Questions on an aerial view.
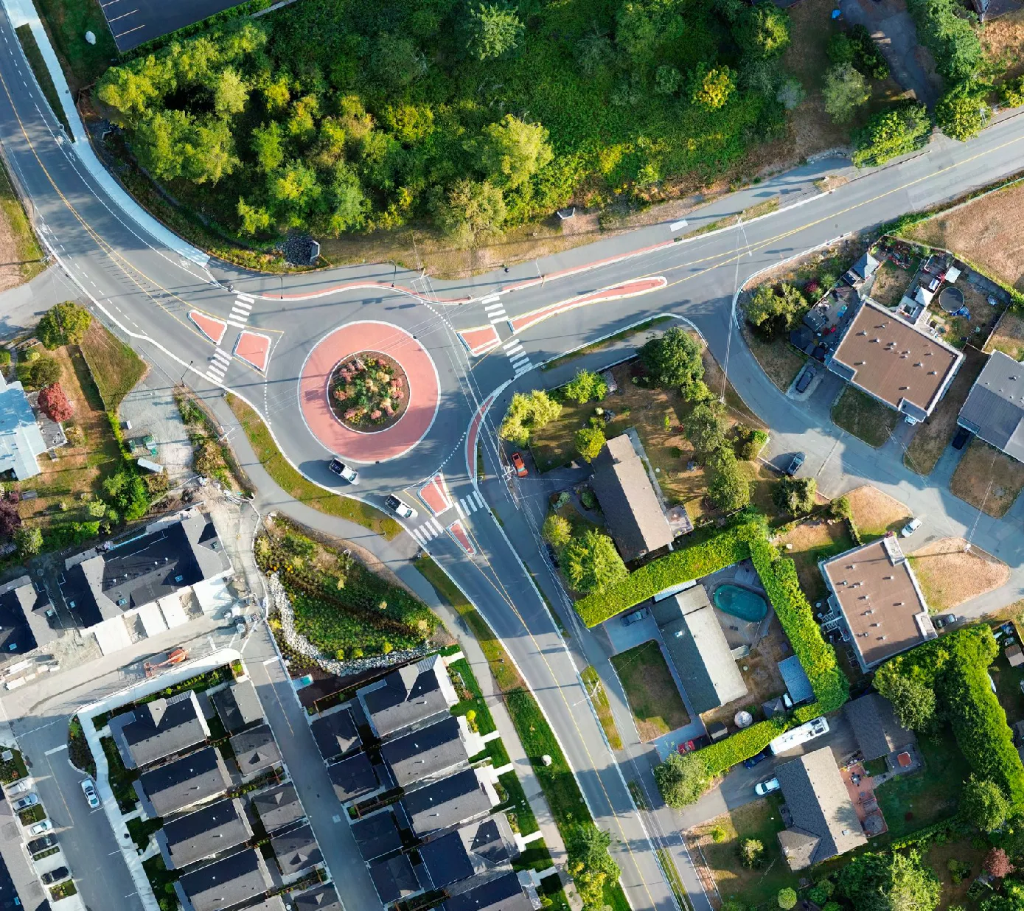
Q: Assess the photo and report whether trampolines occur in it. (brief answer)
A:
Yes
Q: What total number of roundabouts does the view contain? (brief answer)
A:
1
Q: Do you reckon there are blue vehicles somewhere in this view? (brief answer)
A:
Yes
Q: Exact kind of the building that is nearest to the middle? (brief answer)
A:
residential house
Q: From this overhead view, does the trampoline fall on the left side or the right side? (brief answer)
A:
right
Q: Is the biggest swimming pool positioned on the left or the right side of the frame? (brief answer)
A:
right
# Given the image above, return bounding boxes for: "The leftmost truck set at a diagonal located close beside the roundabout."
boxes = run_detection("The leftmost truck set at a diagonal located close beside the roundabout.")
[328,457,360,485]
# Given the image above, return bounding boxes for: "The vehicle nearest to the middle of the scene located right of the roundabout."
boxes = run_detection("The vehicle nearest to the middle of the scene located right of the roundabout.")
[511,451,527,478]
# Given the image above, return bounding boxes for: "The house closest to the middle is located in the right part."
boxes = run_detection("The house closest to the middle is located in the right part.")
[585,433,673,559]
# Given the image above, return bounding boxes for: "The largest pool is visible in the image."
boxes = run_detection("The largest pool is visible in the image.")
[712,584,769,622]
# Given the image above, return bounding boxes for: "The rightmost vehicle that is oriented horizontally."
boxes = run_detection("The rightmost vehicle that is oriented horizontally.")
[931,613,961,630]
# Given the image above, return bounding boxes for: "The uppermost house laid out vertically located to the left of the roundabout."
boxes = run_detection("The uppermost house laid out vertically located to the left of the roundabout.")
[0,374,46,480]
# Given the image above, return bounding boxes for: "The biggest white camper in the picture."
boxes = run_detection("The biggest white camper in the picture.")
[771,717,832,757]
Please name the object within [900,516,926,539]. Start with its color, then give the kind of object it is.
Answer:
white car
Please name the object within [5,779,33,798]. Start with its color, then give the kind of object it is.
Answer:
white car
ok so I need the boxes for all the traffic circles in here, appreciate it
[298,320,441,463]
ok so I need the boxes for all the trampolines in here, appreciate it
[939,286,966,312]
